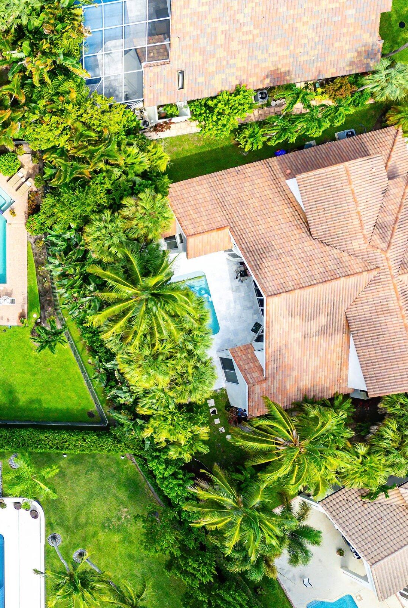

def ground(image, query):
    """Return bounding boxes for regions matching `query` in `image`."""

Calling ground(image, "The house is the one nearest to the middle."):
[159,128,408,416]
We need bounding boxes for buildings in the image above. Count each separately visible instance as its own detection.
[302,466,408,601]
[131,0,394,108]
[159,128,408,416]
